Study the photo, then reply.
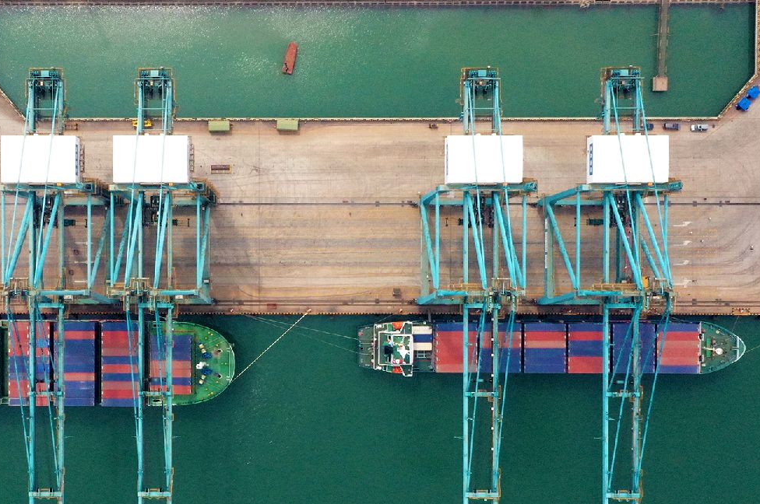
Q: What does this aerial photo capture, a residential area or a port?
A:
port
